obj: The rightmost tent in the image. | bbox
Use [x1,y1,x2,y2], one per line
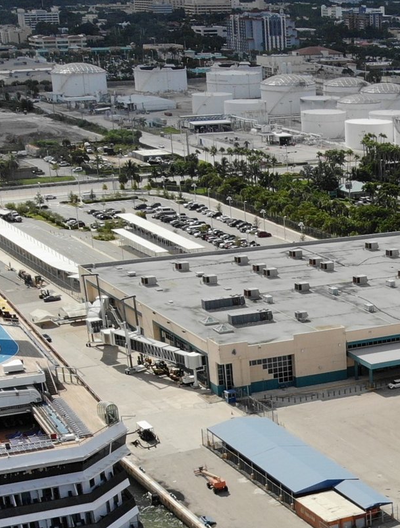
[49,304,89,326]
